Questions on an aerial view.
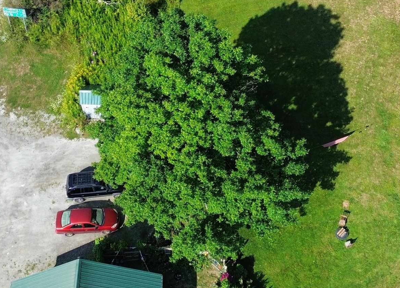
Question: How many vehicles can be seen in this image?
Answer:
2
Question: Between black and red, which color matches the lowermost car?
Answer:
red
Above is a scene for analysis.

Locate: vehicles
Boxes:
[62,170,123,201]
[54,205,120,238]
